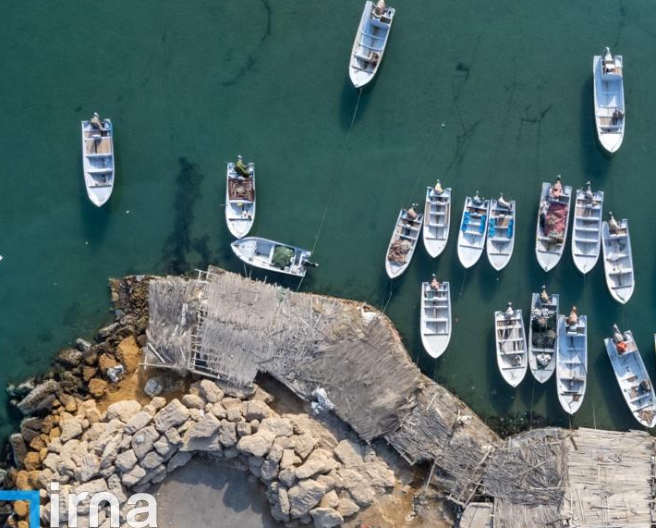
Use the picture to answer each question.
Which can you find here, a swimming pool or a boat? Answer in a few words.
boat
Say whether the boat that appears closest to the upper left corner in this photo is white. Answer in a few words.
Yes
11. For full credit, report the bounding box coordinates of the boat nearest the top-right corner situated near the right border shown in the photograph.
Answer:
[594,46,625,155]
